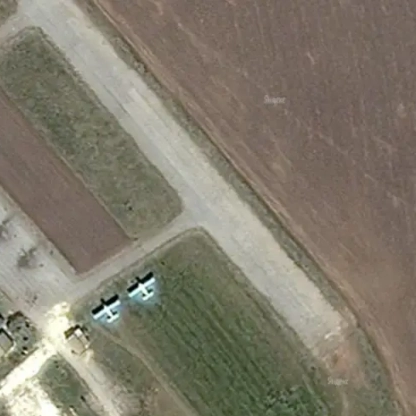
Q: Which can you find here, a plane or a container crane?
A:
plane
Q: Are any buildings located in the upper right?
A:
No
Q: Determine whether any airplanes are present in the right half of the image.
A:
No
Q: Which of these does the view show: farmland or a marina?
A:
farmland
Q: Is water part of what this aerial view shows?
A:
No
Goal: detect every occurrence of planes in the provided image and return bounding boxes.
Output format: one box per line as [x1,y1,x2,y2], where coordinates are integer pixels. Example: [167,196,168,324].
[94,301,120,324]
[129,280,156,303]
